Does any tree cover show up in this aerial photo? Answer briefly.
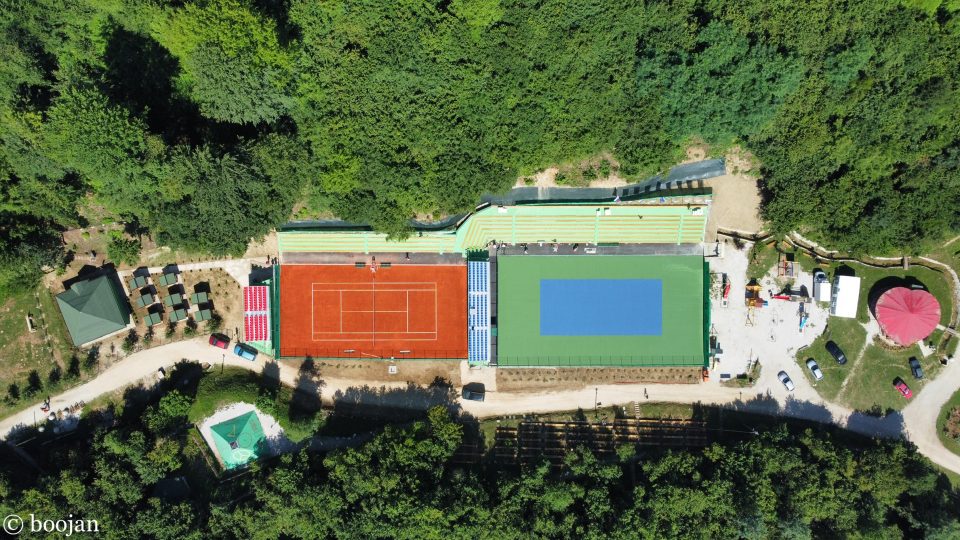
Yes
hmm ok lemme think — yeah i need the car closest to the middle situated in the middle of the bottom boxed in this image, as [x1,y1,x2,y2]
[462,389,486,401]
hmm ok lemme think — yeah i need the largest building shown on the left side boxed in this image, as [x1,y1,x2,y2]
[55,274,143,347]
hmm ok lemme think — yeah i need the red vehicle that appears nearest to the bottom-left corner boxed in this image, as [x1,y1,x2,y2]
[209,335,231,349]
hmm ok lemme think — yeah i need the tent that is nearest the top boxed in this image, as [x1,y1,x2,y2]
[828,276,861,318]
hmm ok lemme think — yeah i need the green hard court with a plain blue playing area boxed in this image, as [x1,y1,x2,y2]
[498,254,703,366]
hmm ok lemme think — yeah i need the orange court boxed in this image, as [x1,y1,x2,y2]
[280,263,468,358]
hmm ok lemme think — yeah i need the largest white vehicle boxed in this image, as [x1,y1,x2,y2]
[815,274,832,303]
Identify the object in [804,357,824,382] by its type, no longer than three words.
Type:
car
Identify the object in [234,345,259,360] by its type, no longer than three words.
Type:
car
